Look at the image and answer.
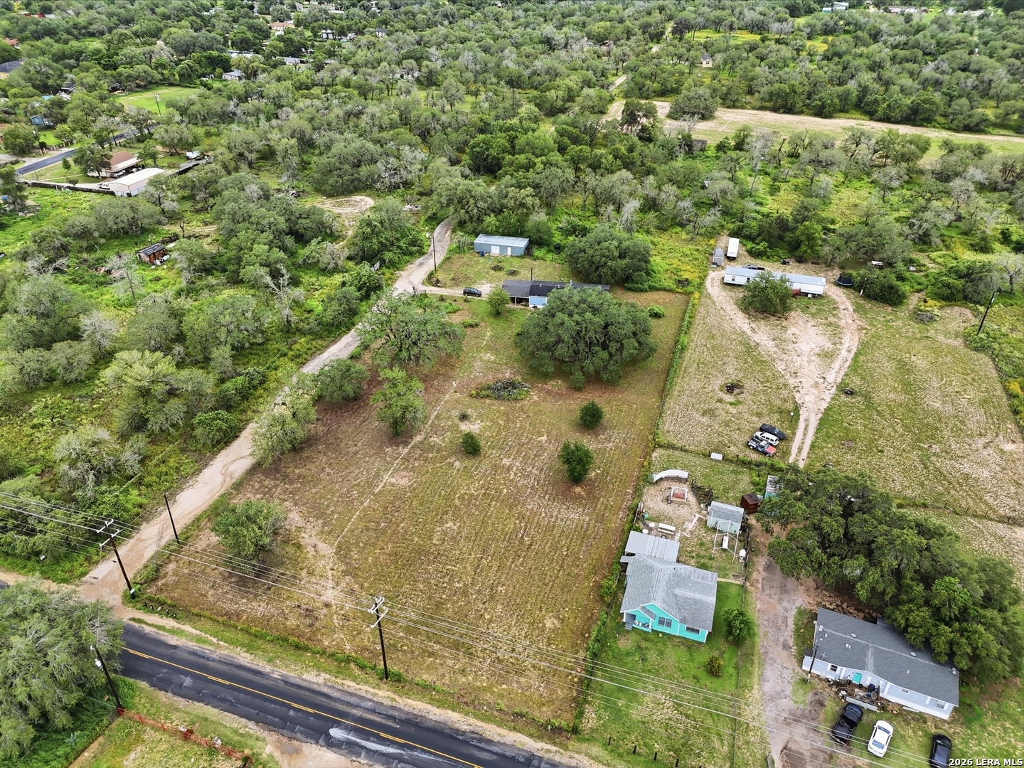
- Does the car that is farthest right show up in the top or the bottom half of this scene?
bottom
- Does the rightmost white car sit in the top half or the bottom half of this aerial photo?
bottom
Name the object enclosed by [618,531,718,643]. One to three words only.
house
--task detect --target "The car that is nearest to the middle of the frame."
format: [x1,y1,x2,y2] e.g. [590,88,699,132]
[461,286,483,298]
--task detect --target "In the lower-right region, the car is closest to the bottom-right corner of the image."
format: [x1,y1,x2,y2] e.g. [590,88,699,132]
[927,731,955,768]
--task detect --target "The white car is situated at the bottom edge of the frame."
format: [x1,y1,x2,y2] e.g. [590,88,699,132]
[867,718,893,761]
